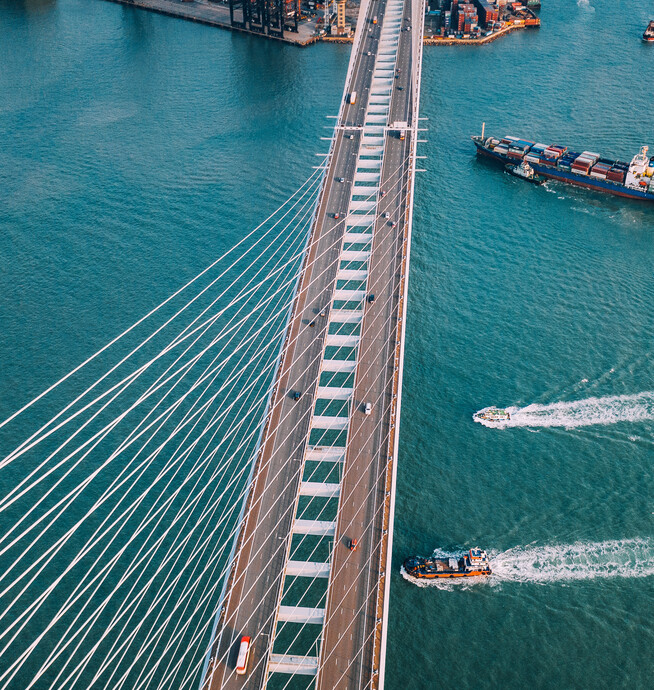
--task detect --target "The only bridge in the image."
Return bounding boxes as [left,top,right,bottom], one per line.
[0,0,430,690]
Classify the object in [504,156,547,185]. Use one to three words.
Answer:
boat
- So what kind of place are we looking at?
port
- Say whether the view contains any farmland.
No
